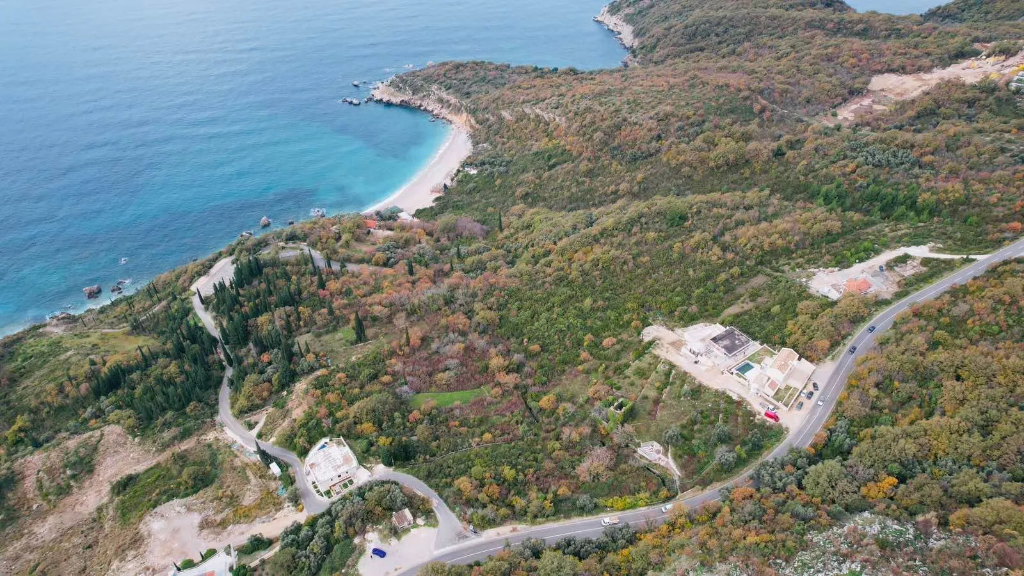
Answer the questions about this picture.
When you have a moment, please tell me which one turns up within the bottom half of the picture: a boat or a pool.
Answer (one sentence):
There is a pool within the bottom half of the picture.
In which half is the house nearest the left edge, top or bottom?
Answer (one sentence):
The house nearest the left edge sits in the bottom half of the picture.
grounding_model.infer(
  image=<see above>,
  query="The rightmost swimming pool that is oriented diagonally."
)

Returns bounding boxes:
[310,438,333,460]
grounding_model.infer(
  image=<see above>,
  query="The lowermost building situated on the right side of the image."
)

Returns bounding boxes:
[636,440,678,475]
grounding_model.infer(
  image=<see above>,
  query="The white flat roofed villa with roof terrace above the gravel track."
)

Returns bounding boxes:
[179,543,237,576]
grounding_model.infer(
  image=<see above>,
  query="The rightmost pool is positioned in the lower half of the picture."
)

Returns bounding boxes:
[732,361,764,381]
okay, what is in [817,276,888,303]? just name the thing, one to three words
house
